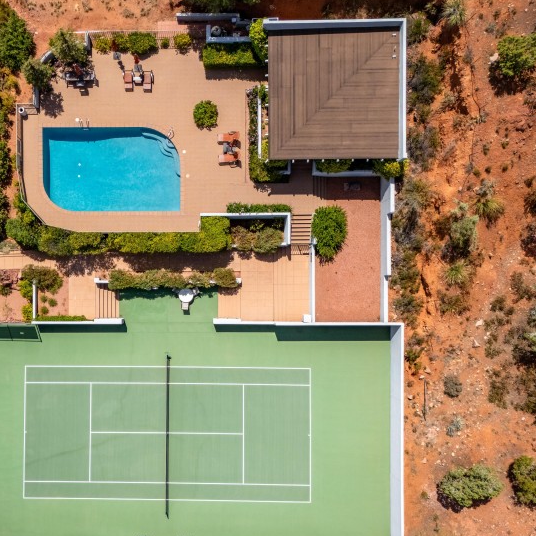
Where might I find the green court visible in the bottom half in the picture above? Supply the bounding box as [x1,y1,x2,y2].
[0,288,388,536]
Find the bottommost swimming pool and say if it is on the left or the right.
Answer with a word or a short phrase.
left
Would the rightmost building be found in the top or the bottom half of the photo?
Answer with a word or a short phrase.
top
